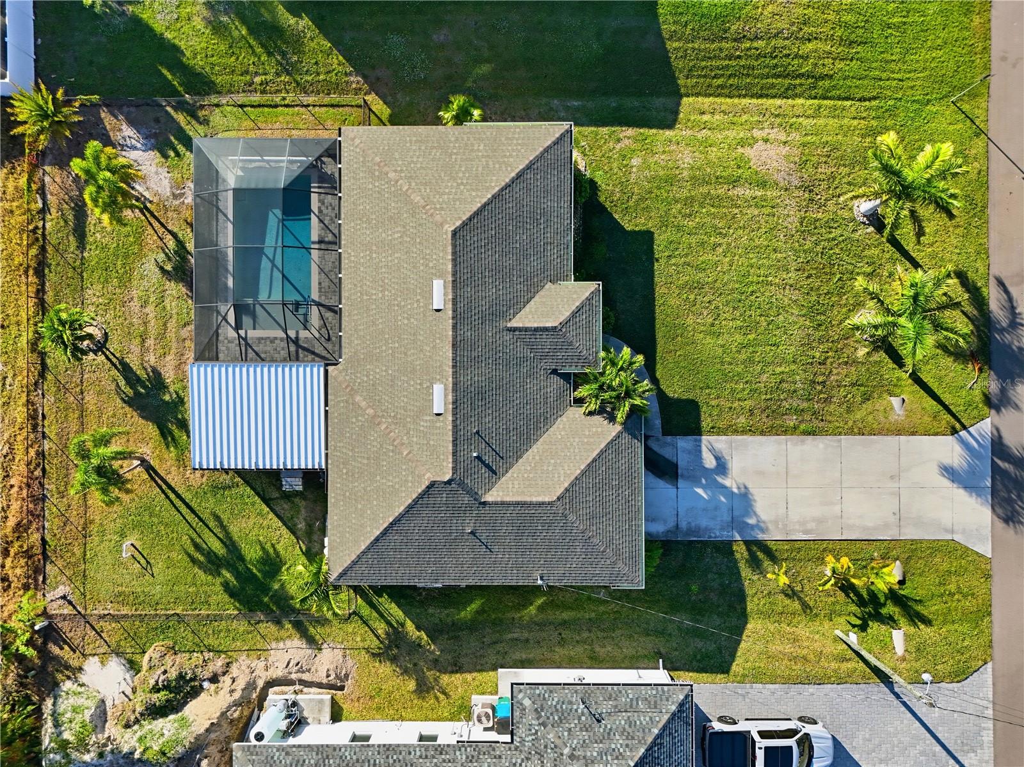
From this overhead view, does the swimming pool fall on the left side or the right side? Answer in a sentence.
You can find the swimming pool on the left side of the picture.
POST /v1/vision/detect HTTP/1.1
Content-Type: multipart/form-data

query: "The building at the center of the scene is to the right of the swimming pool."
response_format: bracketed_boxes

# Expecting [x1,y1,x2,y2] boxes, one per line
[325,122,646,589]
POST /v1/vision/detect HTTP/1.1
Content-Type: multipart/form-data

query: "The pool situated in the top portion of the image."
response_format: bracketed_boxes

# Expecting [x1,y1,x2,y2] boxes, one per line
[226,155,318,337]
